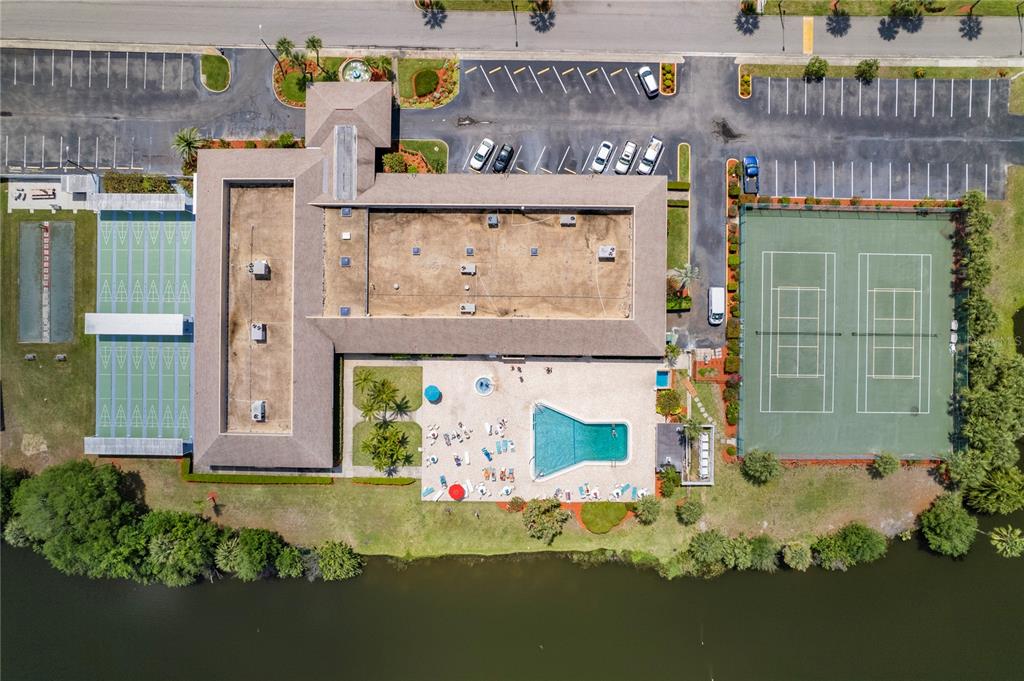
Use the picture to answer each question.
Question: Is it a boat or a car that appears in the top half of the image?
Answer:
car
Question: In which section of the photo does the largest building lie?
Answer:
center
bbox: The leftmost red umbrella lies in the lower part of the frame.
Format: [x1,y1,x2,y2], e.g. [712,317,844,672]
[449,483,464,499]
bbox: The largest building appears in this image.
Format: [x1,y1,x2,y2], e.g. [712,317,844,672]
[193,82,667,468]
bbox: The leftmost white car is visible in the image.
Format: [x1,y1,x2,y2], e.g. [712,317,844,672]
[471,137,494,171]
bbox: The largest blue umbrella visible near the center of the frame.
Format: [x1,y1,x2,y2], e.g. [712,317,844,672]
[425,385,440,401]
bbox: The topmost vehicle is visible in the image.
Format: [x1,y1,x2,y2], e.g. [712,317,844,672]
[638,66,660,97]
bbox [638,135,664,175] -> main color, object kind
white truck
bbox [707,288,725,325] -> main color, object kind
white vehicle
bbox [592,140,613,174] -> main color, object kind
white car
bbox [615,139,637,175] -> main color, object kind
white car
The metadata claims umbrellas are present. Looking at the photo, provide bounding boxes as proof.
[425,385,440,401]
[449,483,464,499]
